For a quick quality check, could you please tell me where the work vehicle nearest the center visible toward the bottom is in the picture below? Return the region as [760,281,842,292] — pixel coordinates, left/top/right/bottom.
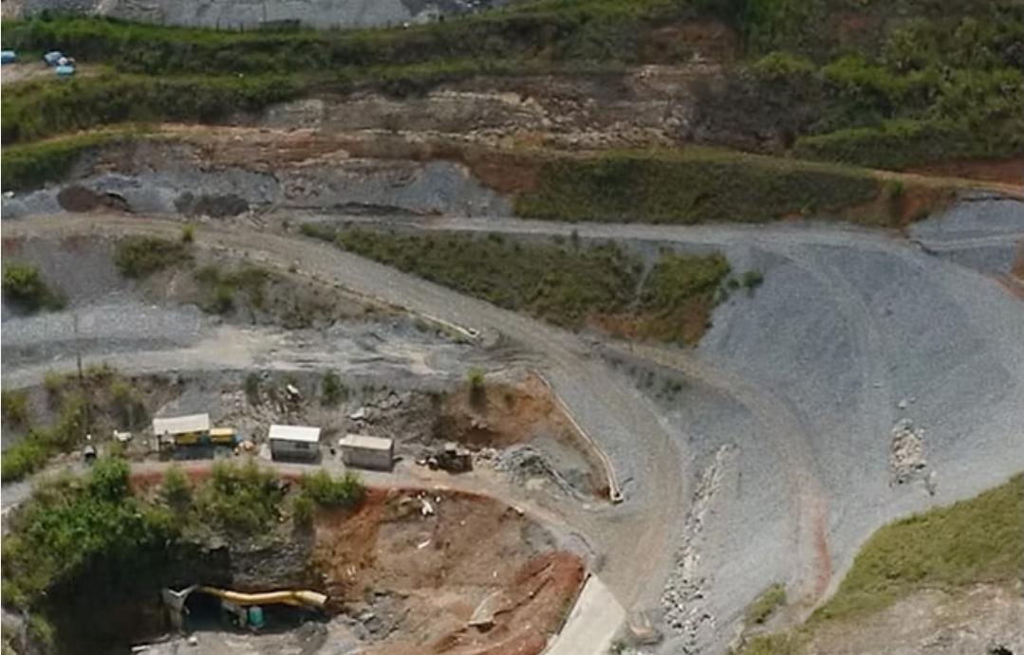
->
[412,440,471,474]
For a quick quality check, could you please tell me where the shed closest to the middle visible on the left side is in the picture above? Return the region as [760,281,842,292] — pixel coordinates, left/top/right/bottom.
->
[340,432,395,470]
